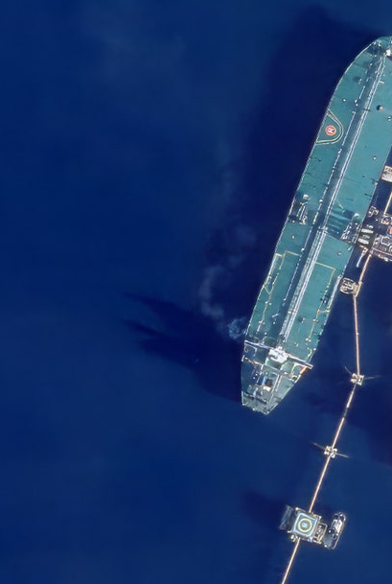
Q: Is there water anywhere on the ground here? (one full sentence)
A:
Yes, water can be seen from above here.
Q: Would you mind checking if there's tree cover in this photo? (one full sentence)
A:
No, tree cover can't be seen anywhere here.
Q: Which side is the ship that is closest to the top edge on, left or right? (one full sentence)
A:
The ship that is closest to the top edge sits on the right side.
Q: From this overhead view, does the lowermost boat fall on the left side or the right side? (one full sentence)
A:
It is on the right.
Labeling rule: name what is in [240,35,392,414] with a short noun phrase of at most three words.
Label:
ship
